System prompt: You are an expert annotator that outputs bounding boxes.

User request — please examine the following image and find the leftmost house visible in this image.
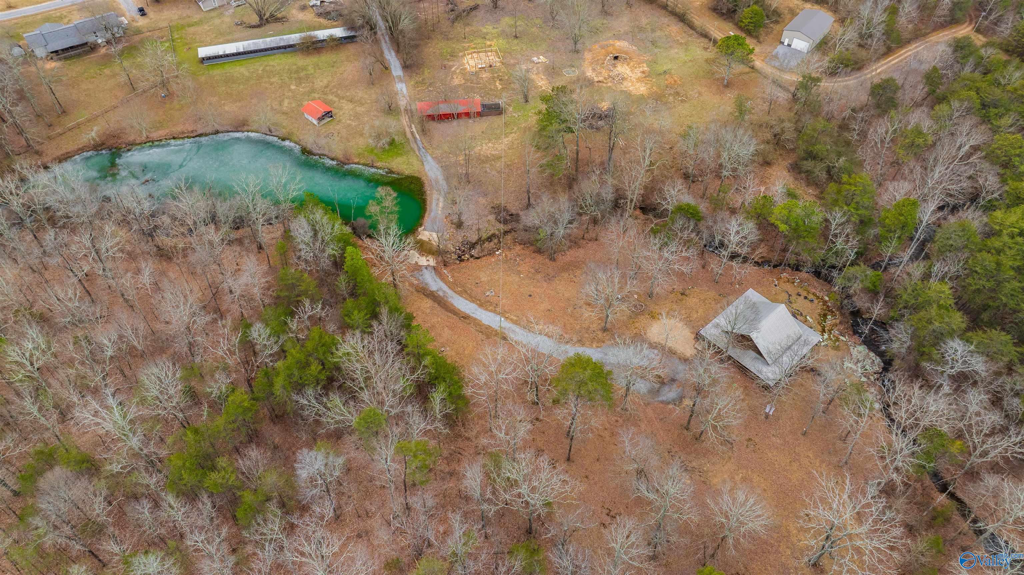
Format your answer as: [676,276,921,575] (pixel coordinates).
[23,14,130,61]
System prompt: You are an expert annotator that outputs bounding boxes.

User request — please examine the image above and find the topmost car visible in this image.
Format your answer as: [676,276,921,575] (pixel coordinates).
[135,6,147,18]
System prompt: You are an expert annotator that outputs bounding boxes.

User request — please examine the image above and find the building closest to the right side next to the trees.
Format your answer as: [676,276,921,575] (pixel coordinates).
[779,10,834,51]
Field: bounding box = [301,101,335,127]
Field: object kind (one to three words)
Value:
shed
